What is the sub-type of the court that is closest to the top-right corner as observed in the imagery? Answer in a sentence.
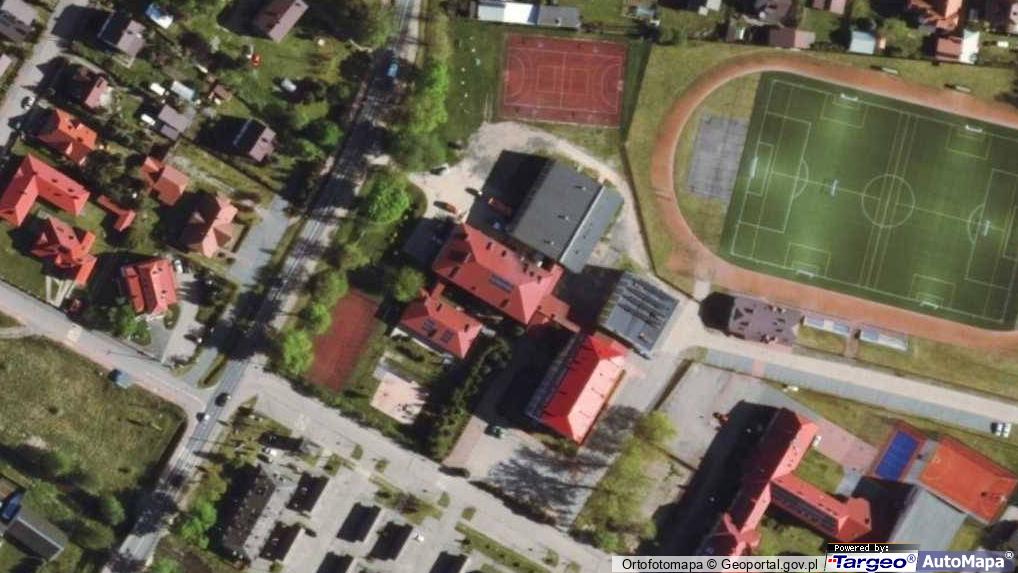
It looks like the court that is closest to the top-right corner is a basketball court.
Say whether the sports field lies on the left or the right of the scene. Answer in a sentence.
The sports field is on the right side of the image.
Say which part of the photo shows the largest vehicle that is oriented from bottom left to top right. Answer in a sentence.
You can find the largest vehicle that is oriented from bottom left to top right in the bottom left area of the picture.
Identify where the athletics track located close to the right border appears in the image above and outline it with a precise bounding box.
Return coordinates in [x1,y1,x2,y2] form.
[646,48,1018,364]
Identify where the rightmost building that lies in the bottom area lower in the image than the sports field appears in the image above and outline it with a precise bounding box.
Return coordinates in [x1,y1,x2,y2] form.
[879,487,967,573]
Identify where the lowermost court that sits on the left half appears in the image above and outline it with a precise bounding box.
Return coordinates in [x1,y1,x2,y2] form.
[306,287,379,391]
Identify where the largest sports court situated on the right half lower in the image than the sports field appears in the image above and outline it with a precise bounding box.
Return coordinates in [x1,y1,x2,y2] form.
[920,437,1017,524]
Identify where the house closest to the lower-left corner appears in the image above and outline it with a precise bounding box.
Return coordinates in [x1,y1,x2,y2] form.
[5,502,69,561]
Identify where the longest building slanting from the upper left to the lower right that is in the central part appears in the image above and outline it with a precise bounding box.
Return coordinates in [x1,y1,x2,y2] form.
[432,223,581,333]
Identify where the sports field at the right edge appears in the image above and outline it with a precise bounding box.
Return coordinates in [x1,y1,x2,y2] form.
[726,70,1018,334]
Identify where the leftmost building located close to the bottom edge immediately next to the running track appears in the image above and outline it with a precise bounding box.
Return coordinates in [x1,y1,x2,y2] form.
[673,408,871,573]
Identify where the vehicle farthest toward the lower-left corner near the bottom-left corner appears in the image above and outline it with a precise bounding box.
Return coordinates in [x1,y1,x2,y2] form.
[2,492,23,518]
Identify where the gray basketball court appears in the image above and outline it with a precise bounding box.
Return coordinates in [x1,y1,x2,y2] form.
[687,115,750,198]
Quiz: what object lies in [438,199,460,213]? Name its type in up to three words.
vehicle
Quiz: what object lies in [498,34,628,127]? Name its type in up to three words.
sports court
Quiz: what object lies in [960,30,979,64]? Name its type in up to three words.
greenhouse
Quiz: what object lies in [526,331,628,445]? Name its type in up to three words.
building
